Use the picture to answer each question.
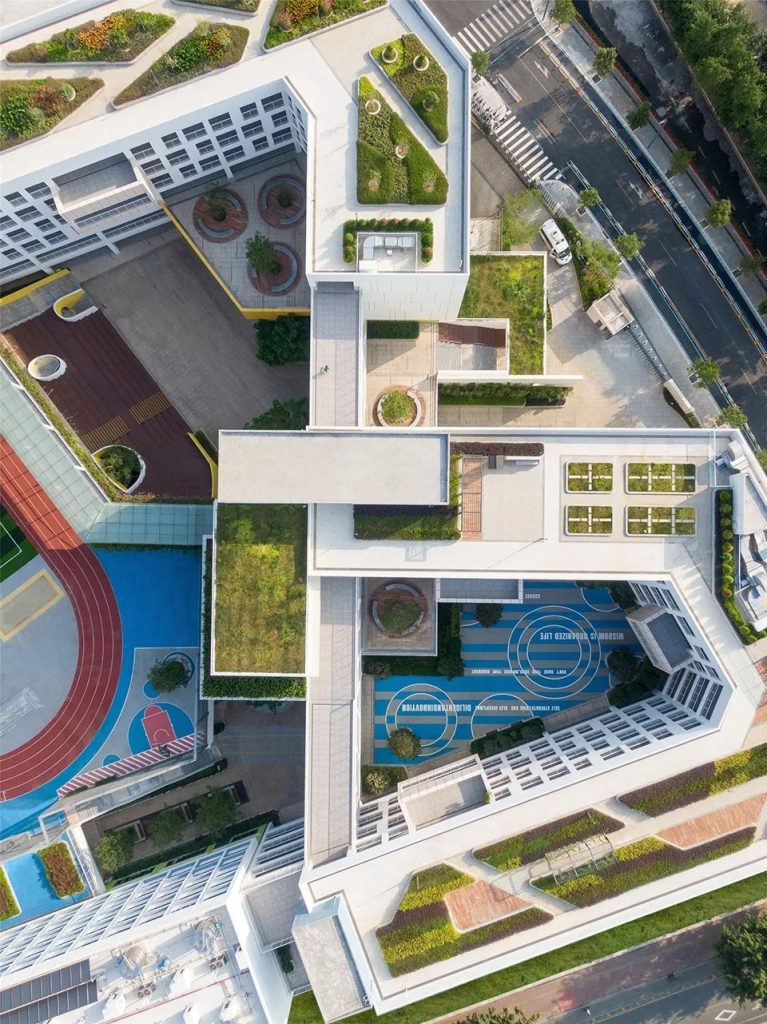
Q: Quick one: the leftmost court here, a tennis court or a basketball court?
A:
basketball court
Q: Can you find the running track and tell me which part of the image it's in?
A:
left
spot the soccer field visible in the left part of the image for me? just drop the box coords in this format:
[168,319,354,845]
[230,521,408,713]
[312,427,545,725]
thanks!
[0,507,37,575]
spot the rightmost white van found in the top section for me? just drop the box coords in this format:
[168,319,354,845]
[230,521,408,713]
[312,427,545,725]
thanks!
[540,218,571,264]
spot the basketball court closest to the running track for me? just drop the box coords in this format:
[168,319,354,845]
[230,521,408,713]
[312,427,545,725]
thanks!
[80,648,198,776]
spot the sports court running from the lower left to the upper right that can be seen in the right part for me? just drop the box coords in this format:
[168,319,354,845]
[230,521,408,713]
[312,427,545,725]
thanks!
[375,573,653,766]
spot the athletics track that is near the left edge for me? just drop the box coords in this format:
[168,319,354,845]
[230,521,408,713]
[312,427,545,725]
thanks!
[0,435,123,799]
